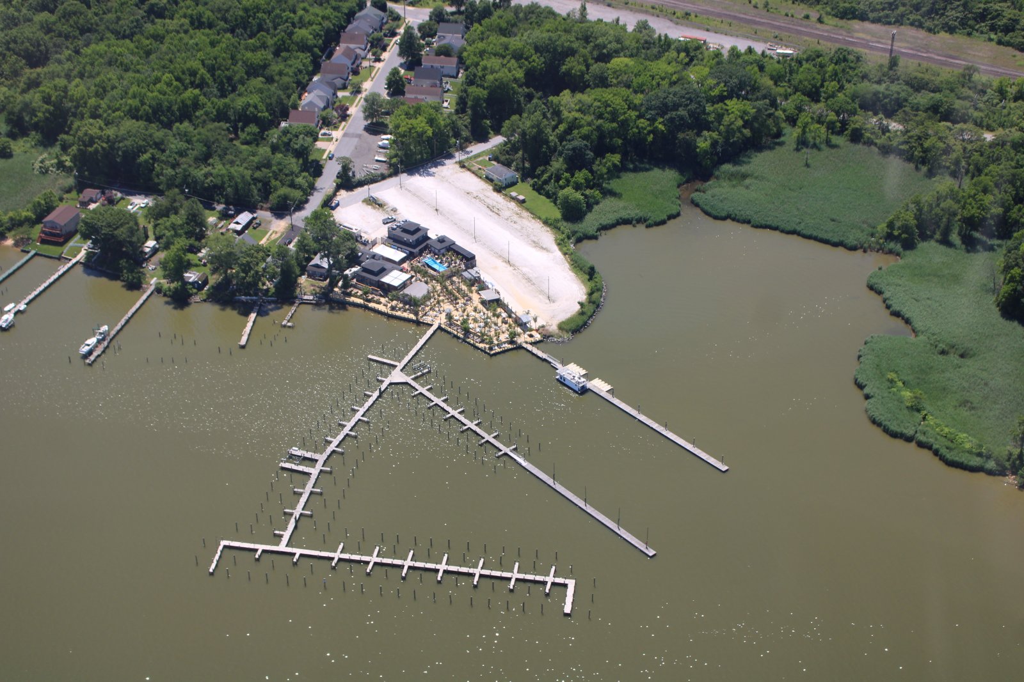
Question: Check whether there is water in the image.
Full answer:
Yes, there's water in this view.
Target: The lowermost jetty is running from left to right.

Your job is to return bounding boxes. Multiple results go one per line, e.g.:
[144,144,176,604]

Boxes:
[207,540,578,619]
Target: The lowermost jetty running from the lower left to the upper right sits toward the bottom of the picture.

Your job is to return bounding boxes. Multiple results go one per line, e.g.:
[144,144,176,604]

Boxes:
[272,373,394,548]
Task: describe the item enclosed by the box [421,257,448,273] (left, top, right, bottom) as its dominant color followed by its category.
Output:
blue swimming pool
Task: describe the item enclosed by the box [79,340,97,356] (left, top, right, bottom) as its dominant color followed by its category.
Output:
white boat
